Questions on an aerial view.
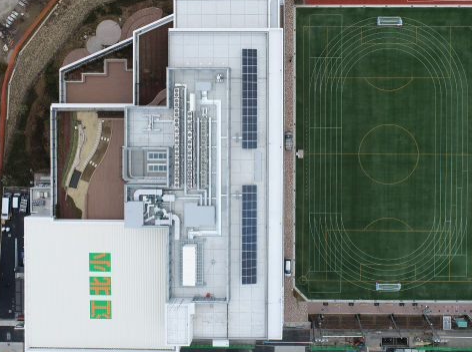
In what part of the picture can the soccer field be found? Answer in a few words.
right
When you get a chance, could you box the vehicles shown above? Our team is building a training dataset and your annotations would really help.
[0,190,15,218]
[10,188,21,207]
[344,337,367,348]
[17,192,29,215]
[285,258,293,275]
[285,131,293,150]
